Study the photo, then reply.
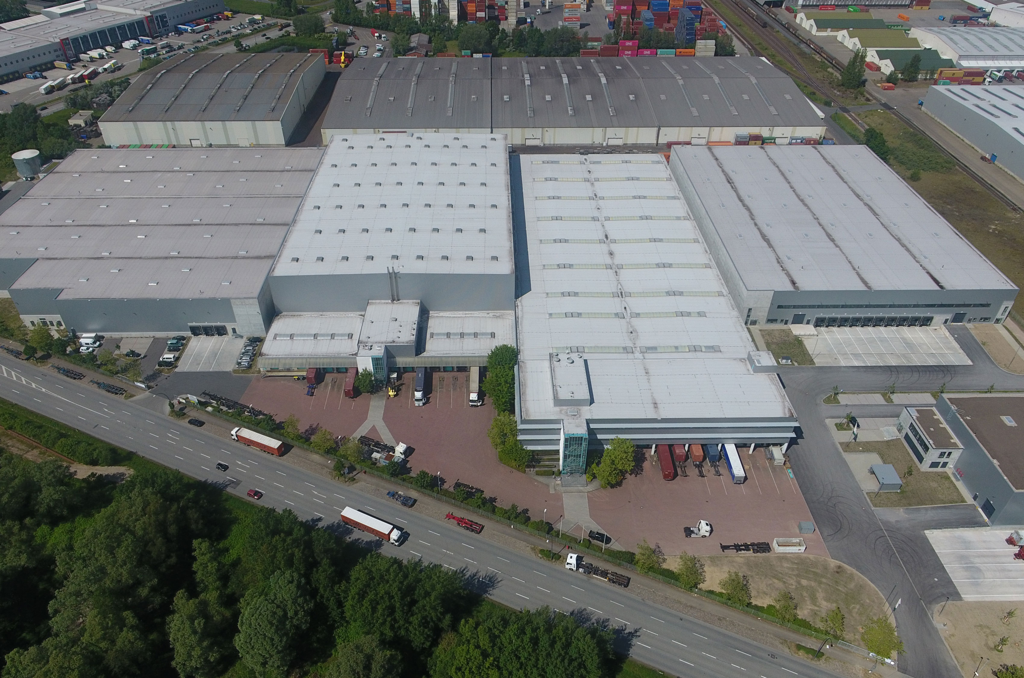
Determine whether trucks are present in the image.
Yes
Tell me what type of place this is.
industrial area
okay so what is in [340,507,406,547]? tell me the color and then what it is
white truck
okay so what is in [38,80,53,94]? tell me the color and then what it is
white vehicle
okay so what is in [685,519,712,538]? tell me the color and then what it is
white vehicle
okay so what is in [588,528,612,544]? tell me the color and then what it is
black vehicle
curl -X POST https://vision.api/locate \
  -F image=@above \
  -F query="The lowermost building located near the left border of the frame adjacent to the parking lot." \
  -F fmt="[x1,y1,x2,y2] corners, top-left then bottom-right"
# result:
[0,149,325,337]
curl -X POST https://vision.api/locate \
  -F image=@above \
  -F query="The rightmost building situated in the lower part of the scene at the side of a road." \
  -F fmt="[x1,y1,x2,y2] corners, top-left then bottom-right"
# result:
[934,391,1024,524]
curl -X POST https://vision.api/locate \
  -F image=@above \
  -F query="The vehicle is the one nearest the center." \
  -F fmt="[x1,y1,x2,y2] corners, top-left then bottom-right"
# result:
[469,366,482,399]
